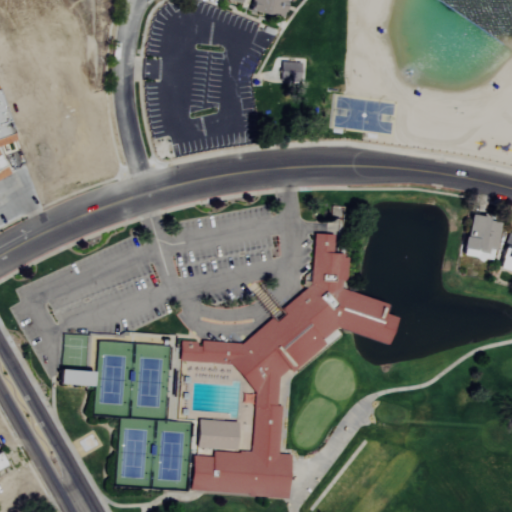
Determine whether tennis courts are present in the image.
Yes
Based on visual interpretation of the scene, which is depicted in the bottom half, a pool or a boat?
pool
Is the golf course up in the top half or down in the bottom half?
bottom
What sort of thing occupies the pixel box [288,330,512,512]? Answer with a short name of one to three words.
golf course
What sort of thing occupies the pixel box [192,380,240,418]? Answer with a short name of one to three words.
swimming pool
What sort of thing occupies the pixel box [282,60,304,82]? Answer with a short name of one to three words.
shed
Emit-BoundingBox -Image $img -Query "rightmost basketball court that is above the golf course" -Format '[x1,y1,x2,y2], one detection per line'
[330,93,398,136]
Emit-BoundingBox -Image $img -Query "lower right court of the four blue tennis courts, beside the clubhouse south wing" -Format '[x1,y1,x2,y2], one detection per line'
[152,420,192,490]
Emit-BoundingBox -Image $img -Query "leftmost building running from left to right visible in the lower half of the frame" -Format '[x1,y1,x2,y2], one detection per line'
[63,370,98,386]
